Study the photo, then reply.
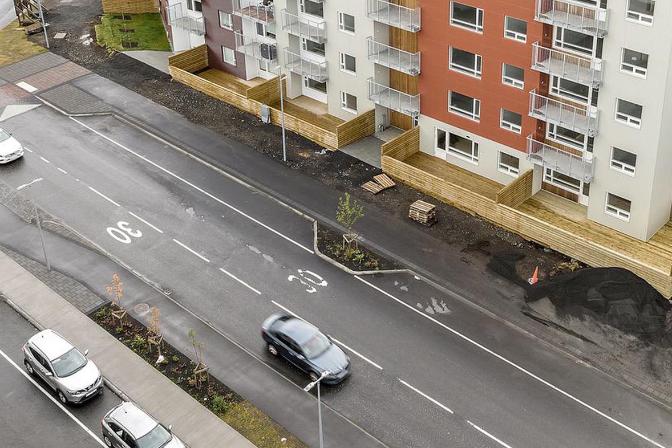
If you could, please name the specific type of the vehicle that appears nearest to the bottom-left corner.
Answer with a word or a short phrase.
car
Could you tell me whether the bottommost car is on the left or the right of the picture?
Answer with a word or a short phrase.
left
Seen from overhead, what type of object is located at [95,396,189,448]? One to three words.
car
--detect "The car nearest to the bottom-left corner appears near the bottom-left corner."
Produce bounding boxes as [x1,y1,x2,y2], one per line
[19,331,102,405]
